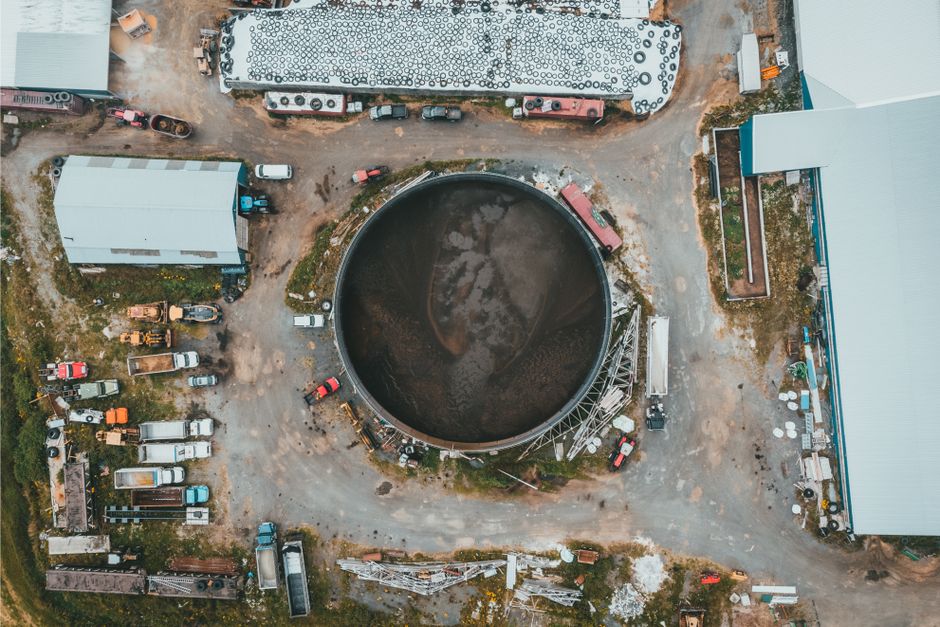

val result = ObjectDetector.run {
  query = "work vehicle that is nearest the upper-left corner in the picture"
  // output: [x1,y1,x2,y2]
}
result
[101,107,150,130]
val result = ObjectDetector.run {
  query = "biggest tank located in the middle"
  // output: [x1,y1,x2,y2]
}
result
[332,172,612,452]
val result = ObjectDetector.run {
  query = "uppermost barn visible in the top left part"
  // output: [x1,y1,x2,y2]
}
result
[0,0,137,97]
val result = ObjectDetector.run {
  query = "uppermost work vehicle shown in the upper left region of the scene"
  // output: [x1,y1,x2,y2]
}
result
[196,28,218,78]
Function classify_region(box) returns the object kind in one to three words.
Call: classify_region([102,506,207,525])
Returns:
trailer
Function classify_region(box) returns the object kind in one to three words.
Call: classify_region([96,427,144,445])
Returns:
work vehicle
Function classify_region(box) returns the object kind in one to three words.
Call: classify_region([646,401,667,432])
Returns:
truck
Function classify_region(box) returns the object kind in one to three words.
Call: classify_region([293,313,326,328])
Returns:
vehicle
